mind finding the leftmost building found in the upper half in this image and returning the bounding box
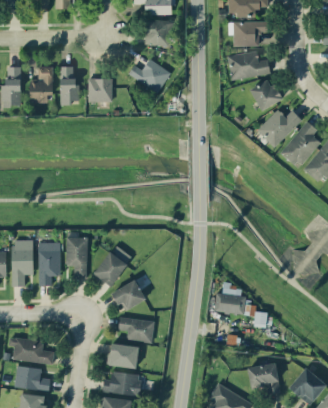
[0,66,20,106]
